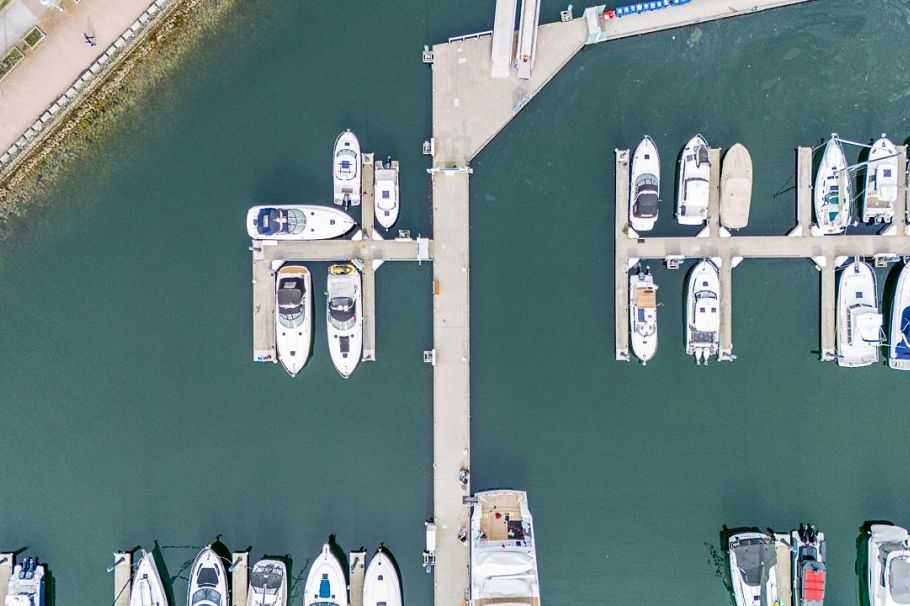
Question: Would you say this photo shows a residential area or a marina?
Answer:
marina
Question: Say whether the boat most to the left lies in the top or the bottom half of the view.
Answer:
bottom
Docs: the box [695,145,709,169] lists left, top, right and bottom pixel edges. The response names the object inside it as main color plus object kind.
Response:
gray boat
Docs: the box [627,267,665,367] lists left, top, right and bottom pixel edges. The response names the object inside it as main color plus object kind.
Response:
white boat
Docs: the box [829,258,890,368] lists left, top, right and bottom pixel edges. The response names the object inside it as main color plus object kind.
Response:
white boat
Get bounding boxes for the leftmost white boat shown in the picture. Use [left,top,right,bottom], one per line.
[3,559,47,606]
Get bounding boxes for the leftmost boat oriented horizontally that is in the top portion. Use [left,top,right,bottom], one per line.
[247,205,359,243]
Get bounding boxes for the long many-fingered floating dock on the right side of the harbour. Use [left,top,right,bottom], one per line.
[615,147,910,363]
